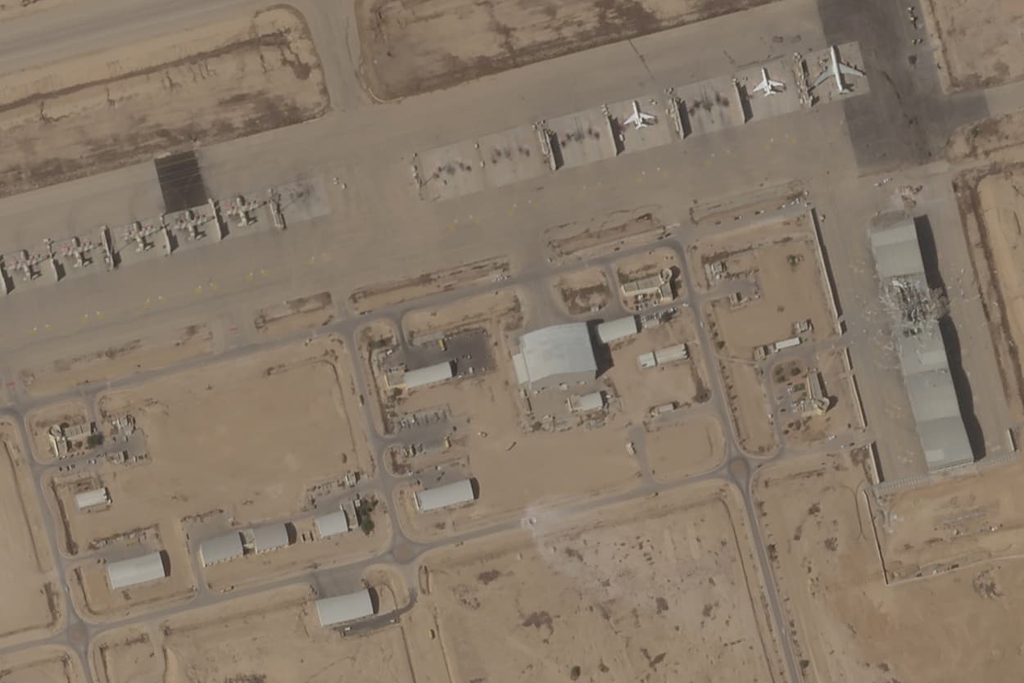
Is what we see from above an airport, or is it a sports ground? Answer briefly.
airport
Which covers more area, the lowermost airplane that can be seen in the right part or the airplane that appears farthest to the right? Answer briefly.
the airplane that appears farthest to the right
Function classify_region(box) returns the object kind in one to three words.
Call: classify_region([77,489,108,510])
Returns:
shed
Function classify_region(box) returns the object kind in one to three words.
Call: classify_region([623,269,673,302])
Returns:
building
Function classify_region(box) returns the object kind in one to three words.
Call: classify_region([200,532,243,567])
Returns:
hangar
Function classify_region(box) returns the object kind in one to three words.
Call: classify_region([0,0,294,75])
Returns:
runway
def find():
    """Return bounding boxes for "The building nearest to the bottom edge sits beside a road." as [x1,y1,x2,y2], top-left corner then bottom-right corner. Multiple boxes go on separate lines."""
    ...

[316,589,374,627]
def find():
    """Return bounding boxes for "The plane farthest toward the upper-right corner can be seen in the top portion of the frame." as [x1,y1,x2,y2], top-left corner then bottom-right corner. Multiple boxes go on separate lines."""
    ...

[815,48,864,90]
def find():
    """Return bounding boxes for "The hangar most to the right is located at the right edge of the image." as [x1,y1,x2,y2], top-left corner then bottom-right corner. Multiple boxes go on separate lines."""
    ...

[869,218,974,478]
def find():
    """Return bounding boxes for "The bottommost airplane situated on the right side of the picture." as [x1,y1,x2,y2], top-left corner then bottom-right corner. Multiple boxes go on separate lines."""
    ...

[624,102,654,127]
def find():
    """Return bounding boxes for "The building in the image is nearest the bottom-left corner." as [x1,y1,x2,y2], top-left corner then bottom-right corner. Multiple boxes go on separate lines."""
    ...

[108,552,165,591]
